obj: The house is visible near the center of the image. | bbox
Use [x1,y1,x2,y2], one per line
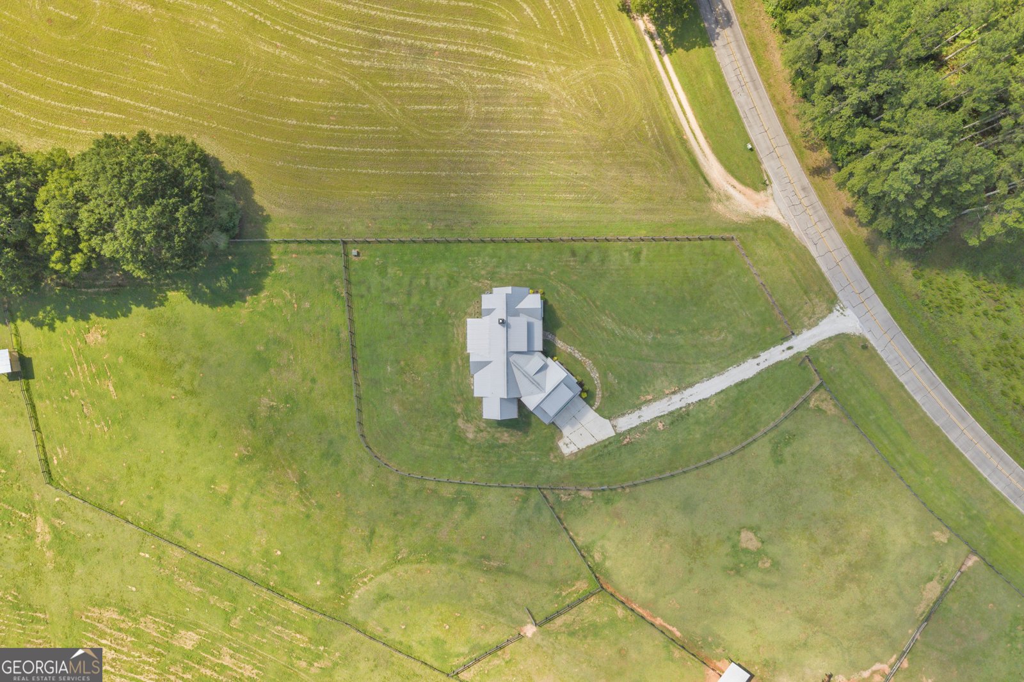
[467,286,581,424]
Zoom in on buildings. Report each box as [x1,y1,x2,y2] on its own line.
[0,349,22,373]
[467,286,581,424]
[719,658,750,682]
